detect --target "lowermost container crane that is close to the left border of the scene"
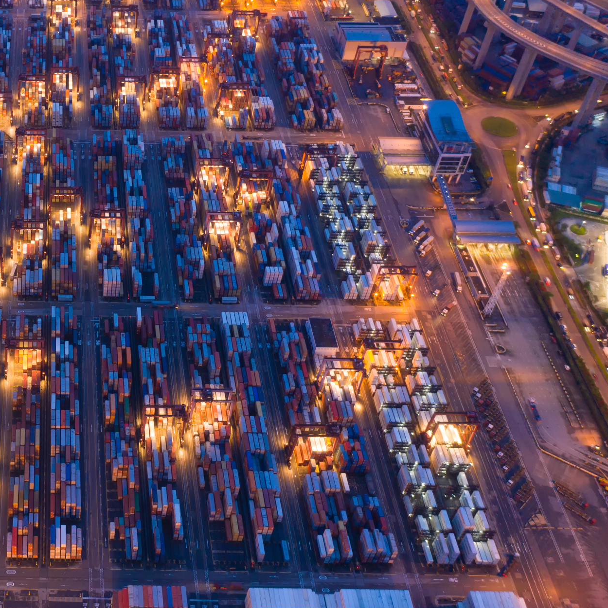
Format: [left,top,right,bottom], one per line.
[1,338,45,378]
